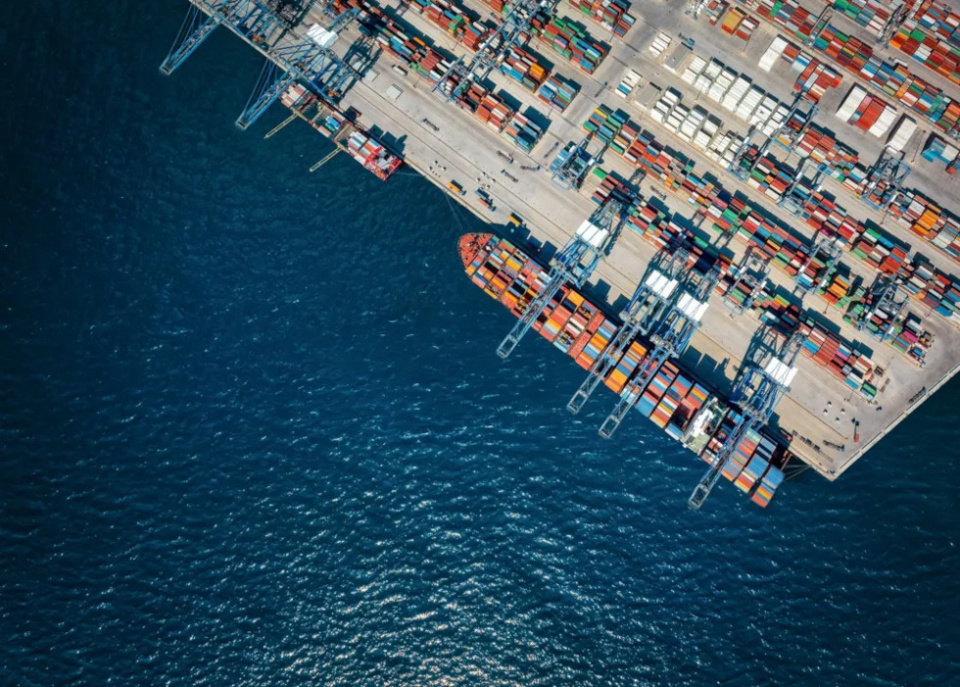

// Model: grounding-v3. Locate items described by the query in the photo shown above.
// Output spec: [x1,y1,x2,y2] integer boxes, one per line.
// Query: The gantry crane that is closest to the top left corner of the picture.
[160,0,284,69]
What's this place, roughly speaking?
port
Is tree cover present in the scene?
No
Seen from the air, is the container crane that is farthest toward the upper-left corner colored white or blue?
blue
